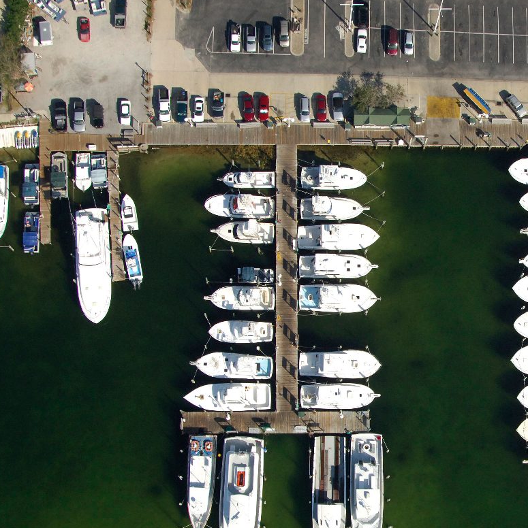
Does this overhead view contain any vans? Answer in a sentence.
Yes, this view includes a van.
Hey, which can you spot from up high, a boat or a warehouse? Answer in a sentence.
Visible in the photo is a boat.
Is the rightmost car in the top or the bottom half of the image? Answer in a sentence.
Seen from above, the rightmost car lies in the top half of the view.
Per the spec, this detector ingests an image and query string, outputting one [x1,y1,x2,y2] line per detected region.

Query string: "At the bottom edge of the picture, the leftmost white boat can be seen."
[186,436,215,528]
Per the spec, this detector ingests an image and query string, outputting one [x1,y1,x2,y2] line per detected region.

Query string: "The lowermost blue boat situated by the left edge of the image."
[22,213,39,261]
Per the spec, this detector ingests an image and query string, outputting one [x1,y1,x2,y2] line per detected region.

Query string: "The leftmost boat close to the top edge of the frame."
[27,0,67,22]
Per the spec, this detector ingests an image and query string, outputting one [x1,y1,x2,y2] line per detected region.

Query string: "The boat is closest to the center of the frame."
[238,267,275,284]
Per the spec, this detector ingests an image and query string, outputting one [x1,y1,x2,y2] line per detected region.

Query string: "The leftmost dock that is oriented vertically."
[38,125,52,245]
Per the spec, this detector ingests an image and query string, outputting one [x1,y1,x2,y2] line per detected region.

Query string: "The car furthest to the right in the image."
[504,90,528,119]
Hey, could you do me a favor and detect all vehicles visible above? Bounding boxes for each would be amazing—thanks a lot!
[463,83,492,116]
[194,98,204,122]
[387,29,399,56]
[79,18,89,42]
[504,90,528,119]
[175,90,187,122]
[93,102,103,128]
[52,101,66,132]
[403,32,414,55]
[278,19,290,47]
[211,92,224,118]
[357,30,367,53]
[119,100,131,125]
[299,97,310,122]
[246,26,257,52]
[316,96,327,122]
[258,96,269,121]
[156,88,170,122]
[113,0,126,28]
[229,24,241,52]
[332,94,344,121]
[262,24,273,51]
[71,101,85,132]
[244,95,253,120]
[356,1,367,30]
